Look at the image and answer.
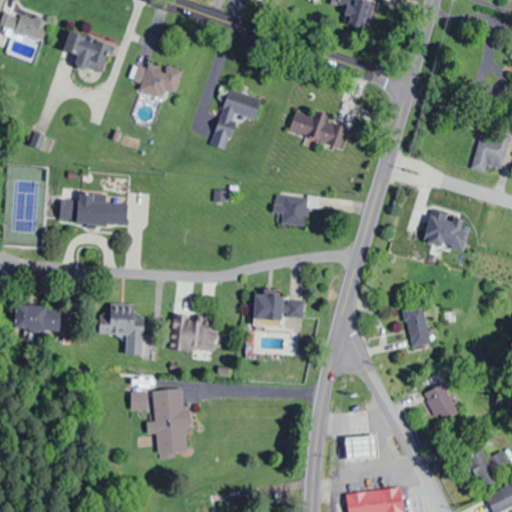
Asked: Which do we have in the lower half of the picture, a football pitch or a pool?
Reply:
pool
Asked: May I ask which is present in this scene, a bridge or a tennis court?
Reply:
tennis court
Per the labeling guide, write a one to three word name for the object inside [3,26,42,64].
swimming pool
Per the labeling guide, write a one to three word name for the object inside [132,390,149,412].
building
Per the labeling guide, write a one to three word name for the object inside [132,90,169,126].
swimming pool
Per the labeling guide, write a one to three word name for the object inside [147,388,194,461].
house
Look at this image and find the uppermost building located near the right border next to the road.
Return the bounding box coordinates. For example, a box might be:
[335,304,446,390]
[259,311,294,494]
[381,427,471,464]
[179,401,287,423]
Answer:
[471,138,512,172]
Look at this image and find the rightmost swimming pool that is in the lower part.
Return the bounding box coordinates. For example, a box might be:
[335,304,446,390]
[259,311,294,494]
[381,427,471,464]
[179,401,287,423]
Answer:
[247,324,298,356]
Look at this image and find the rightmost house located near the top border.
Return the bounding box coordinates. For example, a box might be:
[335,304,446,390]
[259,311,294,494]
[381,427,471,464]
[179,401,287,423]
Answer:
[330,0,374,29]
